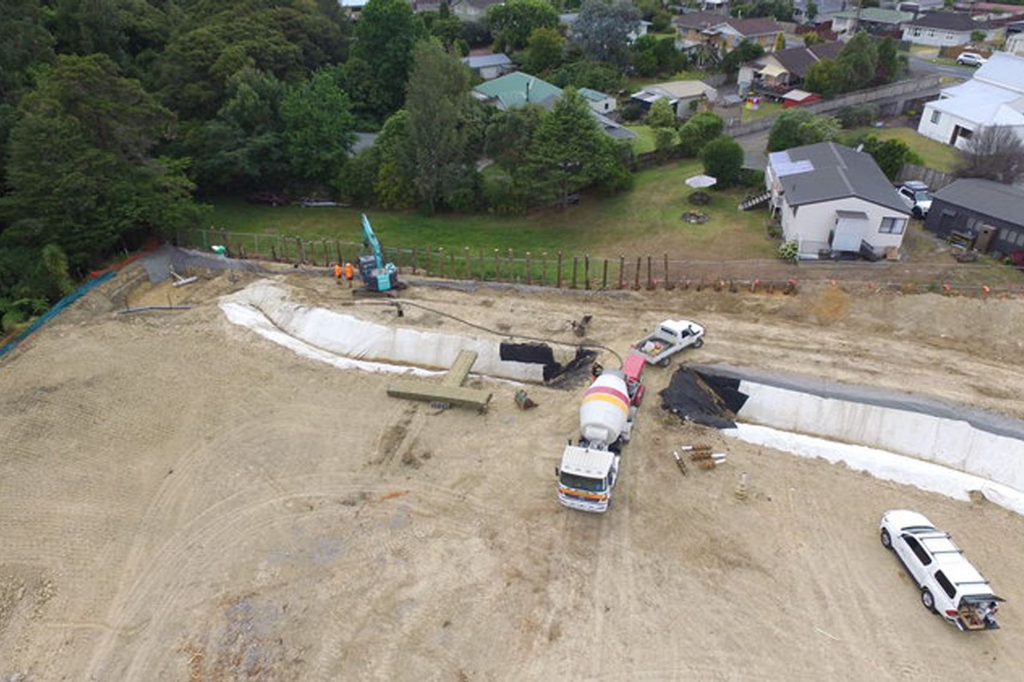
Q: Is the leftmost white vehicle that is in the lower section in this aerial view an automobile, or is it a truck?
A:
truck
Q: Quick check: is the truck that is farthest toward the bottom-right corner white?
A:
Yes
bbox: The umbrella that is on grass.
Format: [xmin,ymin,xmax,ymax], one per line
[688,176,720,201]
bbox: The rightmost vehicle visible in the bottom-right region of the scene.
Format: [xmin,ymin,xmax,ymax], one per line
[878,516,1008,637]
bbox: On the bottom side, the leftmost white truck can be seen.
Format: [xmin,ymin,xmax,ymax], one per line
[554,373,632,515]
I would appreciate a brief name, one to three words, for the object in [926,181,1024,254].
shed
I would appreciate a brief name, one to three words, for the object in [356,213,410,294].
work vehicle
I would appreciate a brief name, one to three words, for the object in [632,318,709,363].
truck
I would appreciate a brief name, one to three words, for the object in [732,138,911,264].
house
